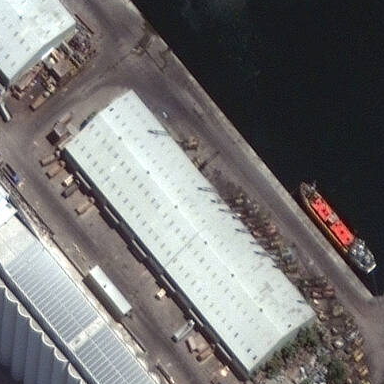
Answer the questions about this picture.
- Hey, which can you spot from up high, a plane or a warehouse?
warehouse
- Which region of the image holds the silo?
bottom left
